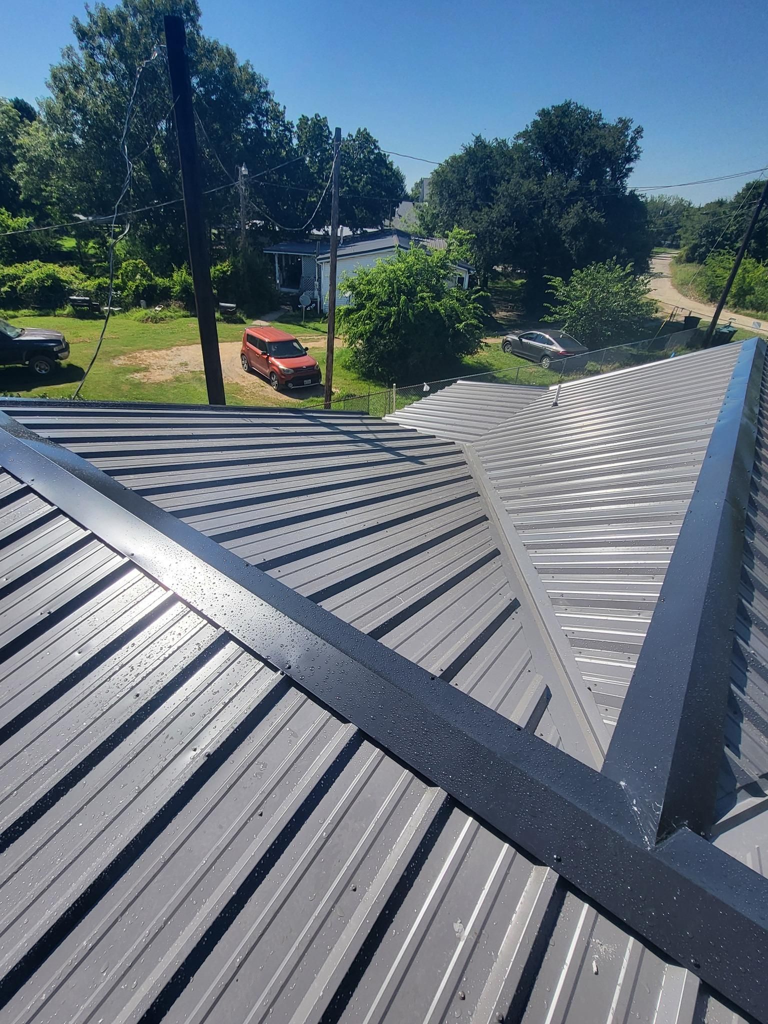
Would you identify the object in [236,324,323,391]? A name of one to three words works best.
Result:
car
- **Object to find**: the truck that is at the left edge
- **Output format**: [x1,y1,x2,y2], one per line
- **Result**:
[0,315,75,374]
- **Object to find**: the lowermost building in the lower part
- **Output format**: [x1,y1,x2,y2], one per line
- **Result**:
[0,339,768,1024]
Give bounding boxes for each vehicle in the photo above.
[236,324,323,391]
[0,315,75,374]
[503,330,590,369]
